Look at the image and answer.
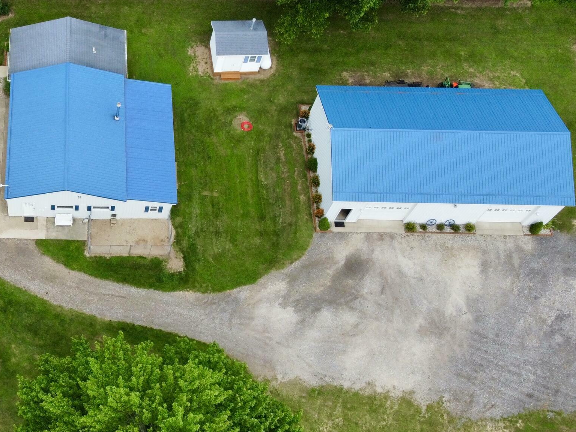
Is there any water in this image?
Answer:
No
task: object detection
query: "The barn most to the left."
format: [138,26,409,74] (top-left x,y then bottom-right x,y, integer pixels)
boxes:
[2,16,177,219]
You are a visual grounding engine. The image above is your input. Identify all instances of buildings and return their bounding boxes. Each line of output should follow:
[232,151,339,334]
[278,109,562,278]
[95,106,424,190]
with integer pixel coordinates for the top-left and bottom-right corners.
[309,85,575,228]
[210,18,269,79]
[2,16,177,219]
